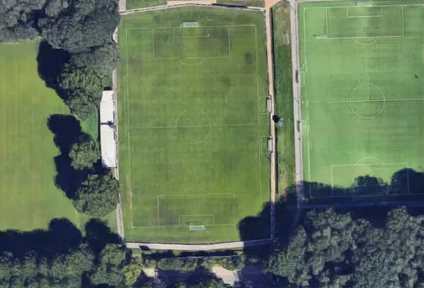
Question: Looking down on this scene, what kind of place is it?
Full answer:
The area seen from above is a sports ground.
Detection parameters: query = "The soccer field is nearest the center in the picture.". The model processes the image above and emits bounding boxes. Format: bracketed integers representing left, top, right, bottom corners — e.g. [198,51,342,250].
[118,4,272,245]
